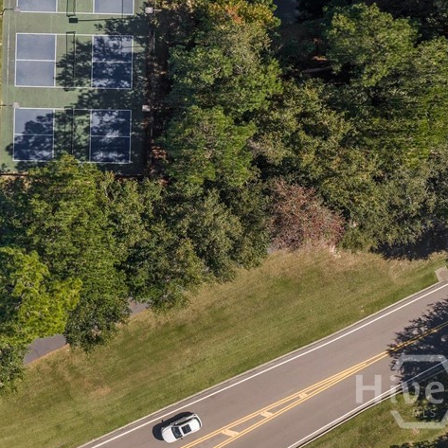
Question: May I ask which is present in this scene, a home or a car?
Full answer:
I can see a car in this picture.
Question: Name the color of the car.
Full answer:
The car is white.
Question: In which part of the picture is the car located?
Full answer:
Look in the bottom portion of the view to spot the car.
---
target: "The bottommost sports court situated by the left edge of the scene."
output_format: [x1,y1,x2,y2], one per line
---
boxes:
[0,98,148,174]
